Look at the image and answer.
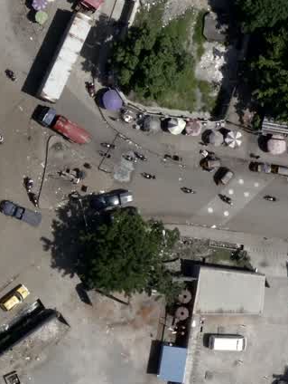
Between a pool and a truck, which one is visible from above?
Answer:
truck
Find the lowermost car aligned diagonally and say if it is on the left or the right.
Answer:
left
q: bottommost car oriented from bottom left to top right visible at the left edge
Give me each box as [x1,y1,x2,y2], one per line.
[0,281,33,313]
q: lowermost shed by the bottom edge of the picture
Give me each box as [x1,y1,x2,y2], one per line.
[154,343,189,383]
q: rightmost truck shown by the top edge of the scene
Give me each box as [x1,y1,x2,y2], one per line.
[35,0,101,103]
